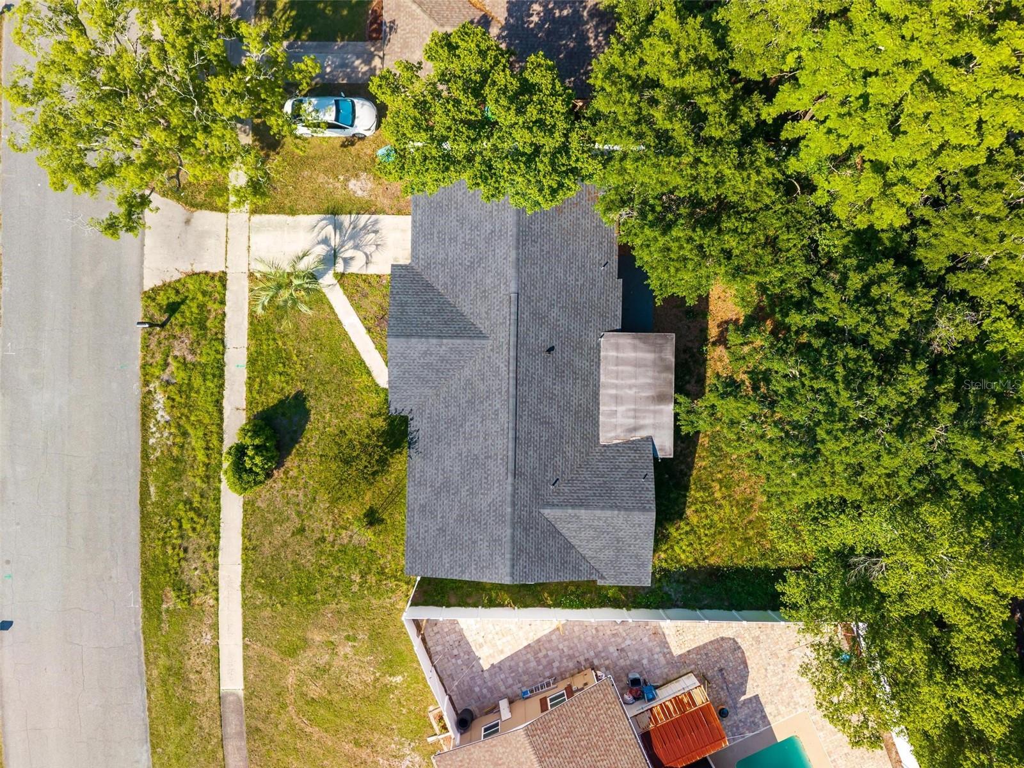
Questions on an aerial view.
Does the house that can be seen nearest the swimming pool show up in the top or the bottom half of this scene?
bottom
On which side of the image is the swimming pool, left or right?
right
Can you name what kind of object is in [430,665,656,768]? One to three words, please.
house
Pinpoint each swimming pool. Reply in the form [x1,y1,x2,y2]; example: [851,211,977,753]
[708,711,835,768]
